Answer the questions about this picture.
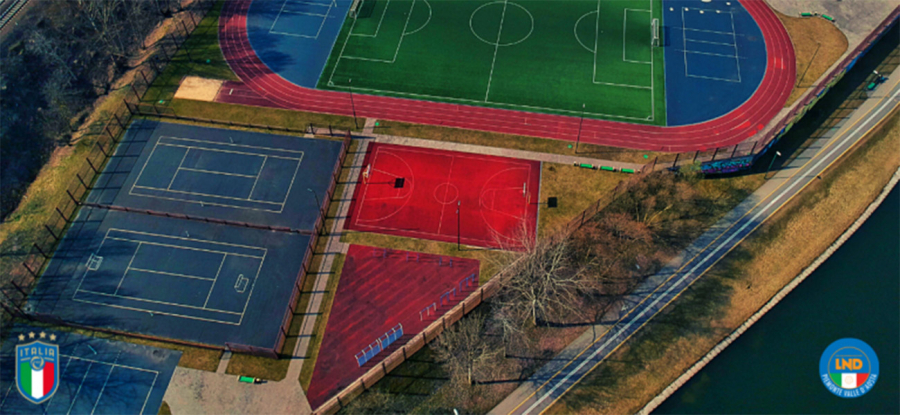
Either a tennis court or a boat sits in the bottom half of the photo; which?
tennis court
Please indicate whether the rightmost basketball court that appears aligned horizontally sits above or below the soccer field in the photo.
below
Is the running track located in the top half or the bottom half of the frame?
top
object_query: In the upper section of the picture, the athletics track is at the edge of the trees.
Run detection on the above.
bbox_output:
[219,0,799,153]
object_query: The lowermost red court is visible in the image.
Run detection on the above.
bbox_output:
[308,244,483,414]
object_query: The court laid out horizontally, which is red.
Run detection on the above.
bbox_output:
[344,142,543,249]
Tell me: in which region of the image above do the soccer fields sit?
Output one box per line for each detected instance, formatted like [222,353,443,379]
[315,0,666,126]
